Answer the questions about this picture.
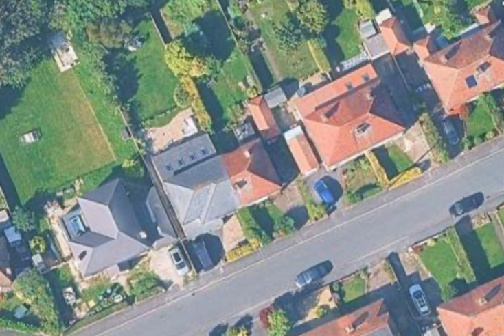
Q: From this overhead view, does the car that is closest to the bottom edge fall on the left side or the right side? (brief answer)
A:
right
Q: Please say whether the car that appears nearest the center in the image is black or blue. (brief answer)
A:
blue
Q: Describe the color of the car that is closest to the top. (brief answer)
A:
blue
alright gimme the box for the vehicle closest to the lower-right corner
[408,282,430,314]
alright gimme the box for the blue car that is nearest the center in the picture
[311,176,335,207]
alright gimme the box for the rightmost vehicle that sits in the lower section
[448,191,485,218]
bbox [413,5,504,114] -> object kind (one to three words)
house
